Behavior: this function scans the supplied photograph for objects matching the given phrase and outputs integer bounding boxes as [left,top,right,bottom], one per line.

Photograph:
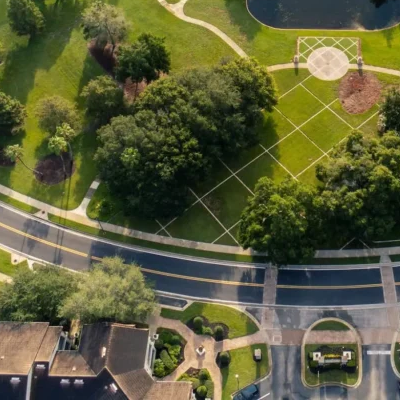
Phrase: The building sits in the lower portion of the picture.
[0,322,194,400]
